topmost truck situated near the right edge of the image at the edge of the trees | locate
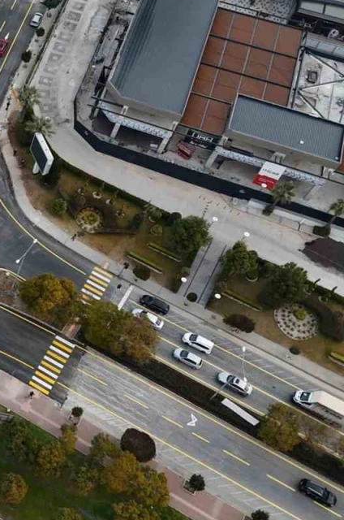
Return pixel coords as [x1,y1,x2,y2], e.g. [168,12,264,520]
[294,375,344,424]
